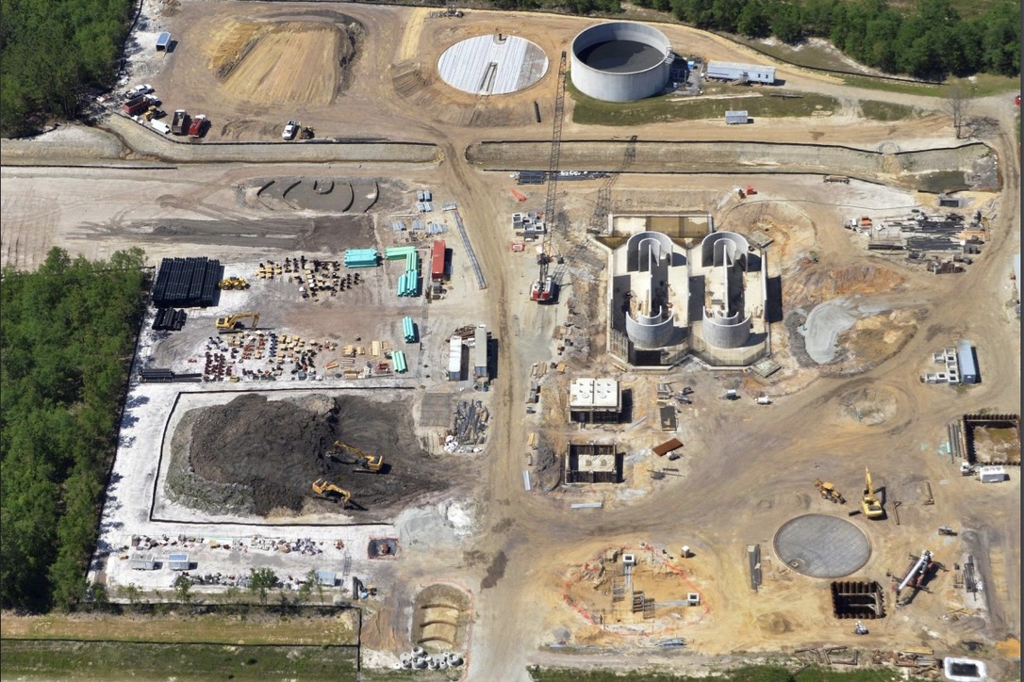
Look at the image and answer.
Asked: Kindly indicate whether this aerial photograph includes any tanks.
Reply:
Yes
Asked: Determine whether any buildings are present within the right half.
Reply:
Yes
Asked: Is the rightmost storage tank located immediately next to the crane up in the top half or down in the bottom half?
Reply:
top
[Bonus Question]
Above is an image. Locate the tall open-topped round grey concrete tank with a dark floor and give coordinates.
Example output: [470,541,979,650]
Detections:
[570,19,678,103]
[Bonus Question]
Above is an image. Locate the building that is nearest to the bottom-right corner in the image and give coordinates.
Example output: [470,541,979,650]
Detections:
[569,378,621,425]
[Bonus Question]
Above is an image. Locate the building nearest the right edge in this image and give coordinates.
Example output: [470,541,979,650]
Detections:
[669,49,719,95]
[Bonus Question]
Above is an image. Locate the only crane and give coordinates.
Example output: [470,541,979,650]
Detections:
[530,50,565,296]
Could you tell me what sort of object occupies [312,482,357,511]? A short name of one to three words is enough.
work vehicle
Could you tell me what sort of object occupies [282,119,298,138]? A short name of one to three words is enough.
vehicle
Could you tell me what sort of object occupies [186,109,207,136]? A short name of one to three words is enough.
truck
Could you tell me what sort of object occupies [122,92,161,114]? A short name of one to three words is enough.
truck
